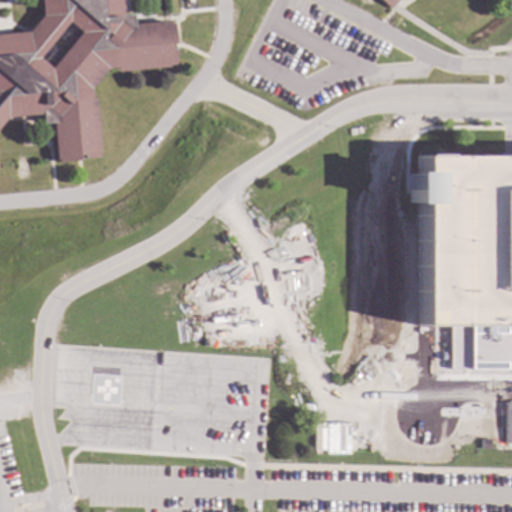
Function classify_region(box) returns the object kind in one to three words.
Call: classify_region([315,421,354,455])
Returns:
shed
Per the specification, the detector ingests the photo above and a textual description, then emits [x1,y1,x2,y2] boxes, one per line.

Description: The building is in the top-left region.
[0,0,180,162]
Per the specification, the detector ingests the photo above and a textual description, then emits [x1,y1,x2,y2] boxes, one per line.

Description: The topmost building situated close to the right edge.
[408,153,512,324]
